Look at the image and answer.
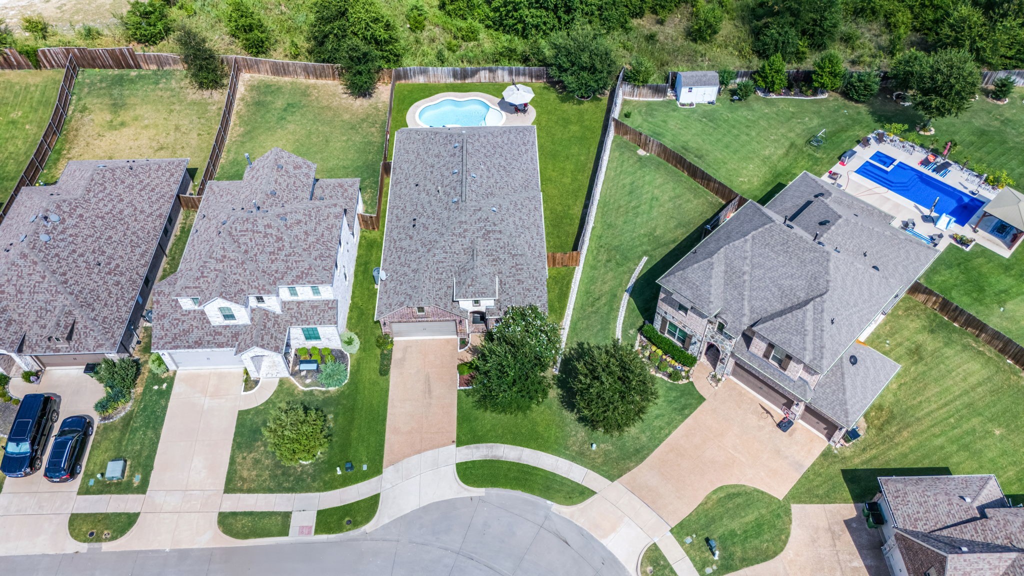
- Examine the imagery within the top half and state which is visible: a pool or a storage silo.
pool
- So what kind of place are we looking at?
residential area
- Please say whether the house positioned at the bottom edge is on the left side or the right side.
right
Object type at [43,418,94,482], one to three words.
car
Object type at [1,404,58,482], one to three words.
car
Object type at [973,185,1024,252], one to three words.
building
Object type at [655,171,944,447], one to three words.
house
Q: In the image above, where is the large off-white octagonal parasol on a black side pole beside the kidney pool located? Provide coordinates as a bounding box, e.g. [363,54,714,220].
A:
[503,81,534,108]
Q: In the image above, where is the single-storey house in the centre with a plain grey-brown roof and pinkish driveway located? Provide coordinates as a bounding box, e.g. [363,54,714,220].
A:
[373,125,551,342]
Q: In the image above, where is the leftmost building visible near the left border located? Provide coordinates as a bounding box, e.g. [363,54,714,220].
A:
[0,156,197,376]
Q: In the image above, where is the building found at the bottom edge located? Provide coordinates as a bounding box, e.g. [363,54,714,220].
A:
[869,472,1024,576]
